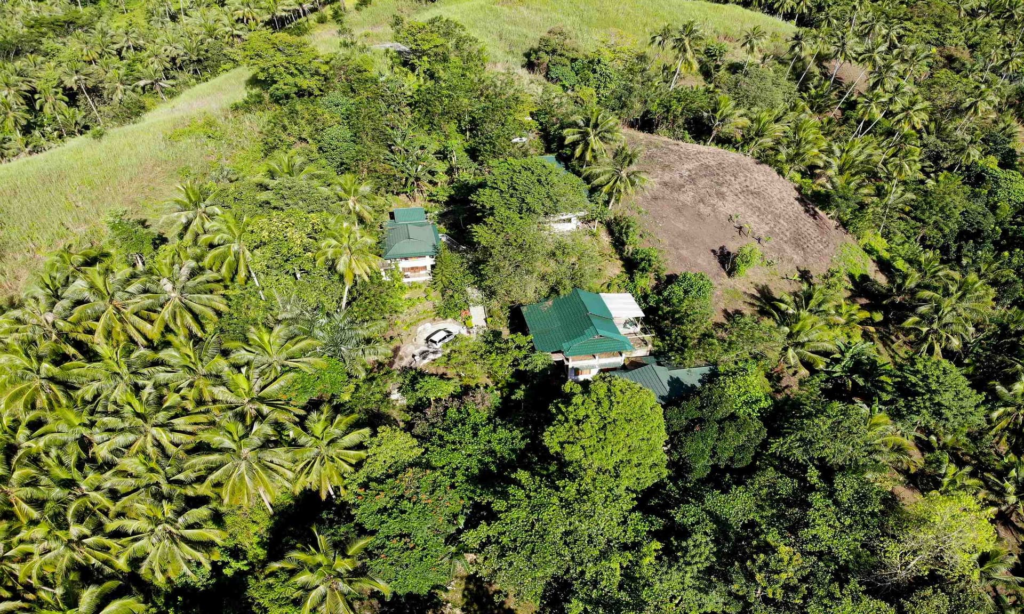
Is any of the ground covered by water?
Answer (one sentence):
No, the scene doesn't show any water.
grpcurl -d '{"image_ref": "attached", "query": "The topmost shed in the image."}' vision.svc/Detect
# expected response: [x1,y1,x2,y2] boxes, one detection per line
[377,45,411,58]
